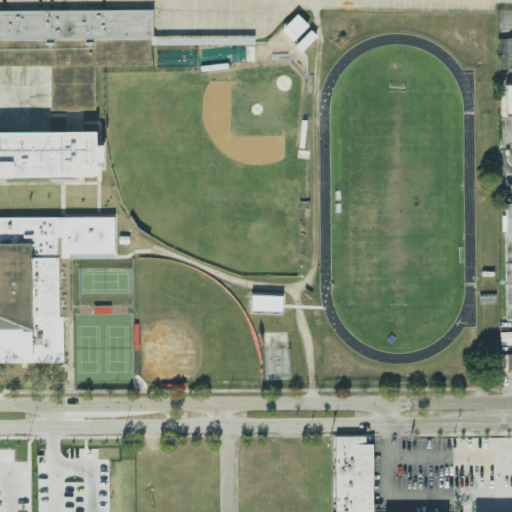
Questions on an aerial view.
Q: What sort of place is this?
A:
sports ground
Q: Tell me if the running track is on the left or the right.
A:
right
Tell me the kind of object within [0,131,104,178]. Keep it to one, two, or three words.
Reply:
building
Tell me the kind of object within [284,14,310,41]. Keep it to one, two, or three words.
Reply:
shed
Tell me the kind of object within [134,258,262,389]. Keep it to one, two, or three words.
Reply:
baseball field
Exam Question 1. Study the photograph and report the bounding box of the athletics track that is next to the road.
[320,34,476,364]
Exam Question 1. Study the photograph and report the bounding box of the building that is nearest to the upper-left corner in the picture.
[0,8,154,46]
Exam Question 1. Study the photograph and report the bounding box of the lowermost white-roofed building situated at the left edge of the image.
[0,216,116,364]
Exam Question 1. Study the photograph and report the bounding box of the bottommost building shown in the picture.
[332,437,374,512]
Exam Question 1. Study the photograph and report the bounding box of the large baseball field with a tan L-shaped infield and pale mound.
[106,66,302,276]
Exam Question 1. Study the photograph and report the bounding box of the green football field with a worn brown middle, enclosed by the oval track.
[332,45,464,352]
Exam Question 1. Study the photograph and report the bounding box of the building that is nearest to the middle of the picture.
[252,295,284,314]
